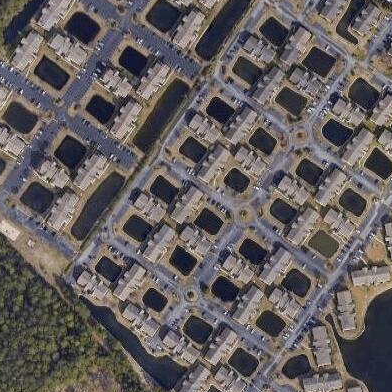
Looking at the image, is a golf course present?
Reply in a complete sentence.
No, I can see no golf course in this picture.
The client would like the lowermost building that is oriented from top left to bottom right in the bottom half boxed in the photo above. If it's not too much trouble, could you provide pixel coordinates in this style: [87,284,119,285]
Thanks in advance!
[211,363,248,392]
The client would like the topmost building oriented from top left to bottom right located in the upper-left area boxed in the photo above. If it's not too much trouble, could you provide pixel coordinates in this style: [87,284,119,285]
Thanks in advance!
[50,31,87,66]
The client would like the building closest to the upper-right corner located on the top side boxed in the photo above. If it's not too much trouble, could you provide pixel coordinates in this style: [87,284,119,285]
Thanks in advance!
[351,0,383,37]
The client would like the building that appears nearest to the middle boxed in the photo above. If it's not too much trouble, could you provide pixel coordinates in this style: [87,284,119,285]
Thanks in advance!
[170,185,203,223]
